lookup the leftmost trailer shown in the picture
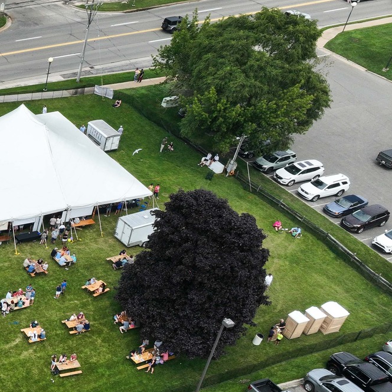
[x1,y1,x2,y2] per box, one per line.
[80,116,126,150]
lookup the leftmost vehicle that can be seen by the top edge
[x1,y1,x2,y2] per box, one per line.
[161,12,192,30]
